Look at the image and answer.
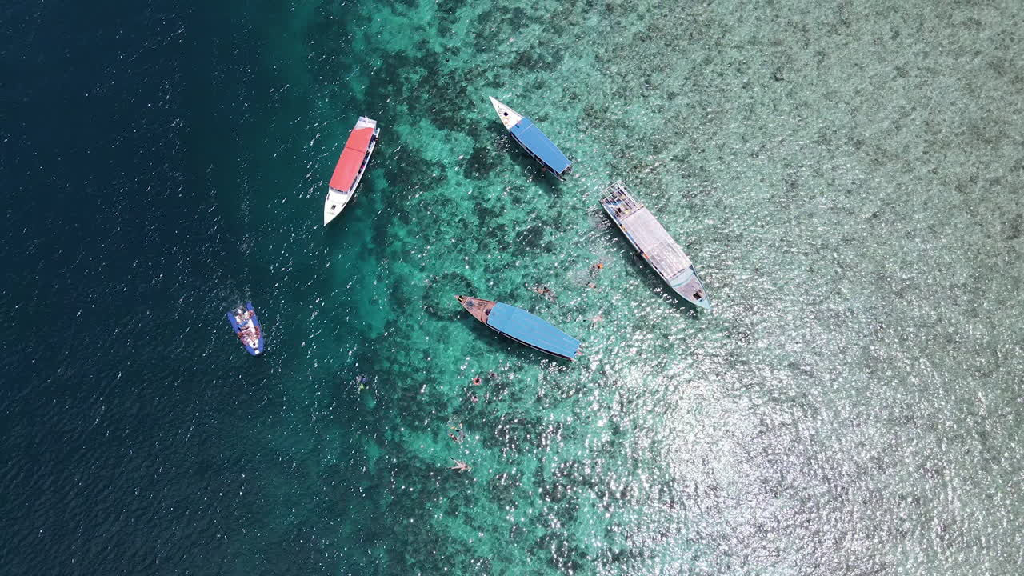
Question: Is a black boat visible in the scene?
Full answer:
No, the picture doesn't show any black boat.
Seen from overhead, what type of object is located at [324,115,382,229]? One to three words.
boat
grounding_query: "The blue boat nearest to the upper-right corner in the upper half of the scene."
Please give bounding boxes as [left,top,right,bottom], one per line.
[489,95,575,184]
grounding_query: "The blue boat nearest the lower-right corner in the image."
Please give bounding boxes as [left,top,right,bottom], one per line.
[454,294,581,364]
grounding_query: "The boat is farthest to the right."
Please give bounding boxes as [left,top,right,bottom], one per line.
[597,182,711,313]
